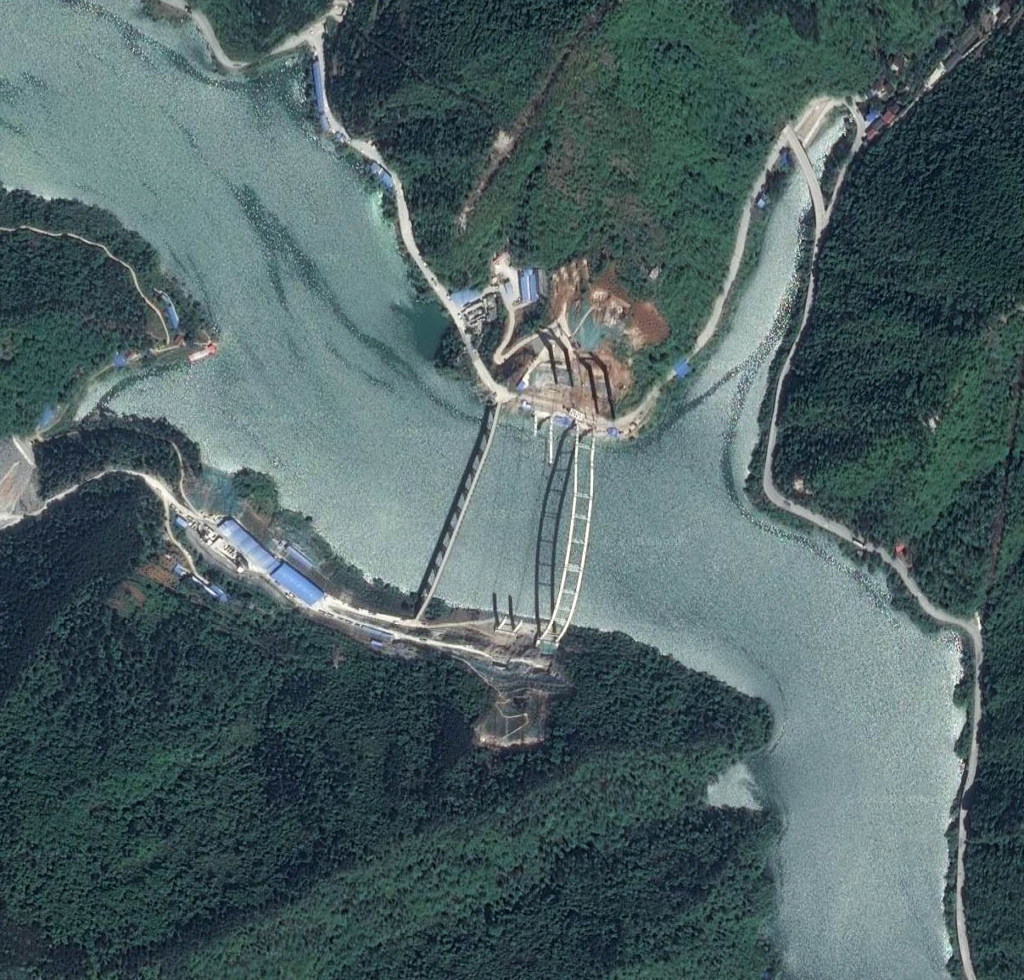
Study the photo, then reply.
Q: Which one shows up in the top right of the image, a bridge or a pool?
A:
bridge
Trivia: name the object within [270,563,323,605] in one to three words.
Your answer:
building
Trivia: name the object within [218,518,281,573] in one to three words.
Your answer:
building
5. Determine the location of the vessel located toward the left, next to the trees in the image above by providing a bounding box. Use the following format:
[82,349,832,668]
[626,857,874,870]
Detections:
[188,347,214,362]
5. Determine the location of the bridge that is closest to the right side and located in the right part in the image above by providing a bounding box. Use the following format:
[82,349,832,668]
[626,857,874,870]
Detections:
[785,124,825,217]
